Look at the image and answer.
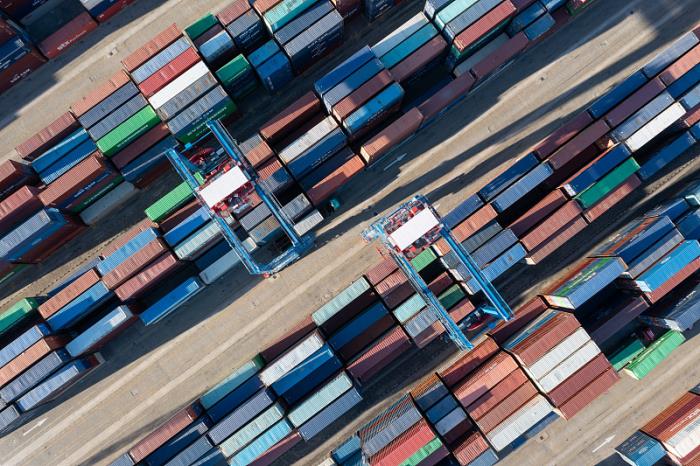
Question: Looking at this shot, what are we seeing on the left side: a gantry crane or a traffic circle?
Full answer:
What appears on the left side is a gantry crane.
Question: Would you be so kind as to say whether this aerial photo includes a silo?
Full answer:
No, there isn't any silo down there.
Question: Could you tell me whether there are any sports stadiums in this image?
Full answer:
No, I find no sports stadium anywhere in the image.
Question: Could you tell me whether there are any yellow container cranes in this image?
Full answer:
No, there appears to be no yellow container crane in this shot.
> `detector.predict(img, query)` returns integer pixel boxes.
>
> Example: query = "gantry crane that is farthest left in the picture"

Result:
[159,116,329,282]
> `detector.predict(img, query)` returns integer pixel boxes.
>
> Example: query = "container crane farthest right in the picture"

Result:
[351,189,522,357]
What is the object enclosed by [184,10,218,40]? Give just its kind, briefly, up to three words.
shipping container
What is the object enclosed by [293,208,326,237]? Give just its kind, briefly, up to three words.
shipping container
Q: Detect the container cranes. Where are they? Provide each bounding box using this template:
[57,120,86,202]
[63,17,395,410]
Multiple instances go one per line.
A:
[351,189,522,357]
[159,116,329,282]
